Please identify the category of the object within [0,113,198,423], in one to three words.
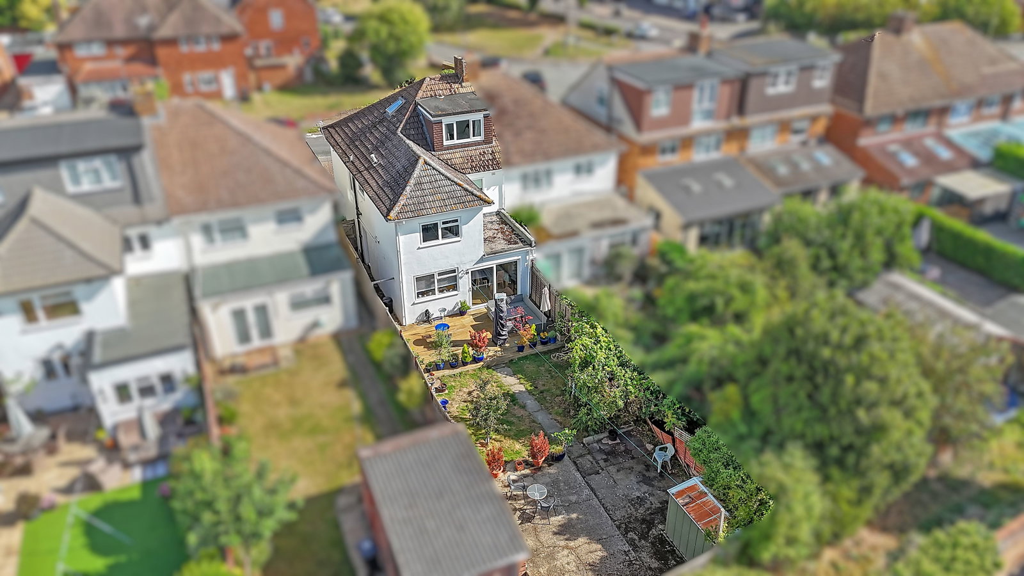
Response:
house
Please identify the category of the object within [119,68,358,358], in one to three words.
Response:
house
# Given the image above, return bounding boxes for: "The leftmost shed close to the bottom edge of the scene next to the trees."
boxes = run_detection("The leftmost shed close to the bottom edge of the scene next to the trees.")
[355,423,534,576]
